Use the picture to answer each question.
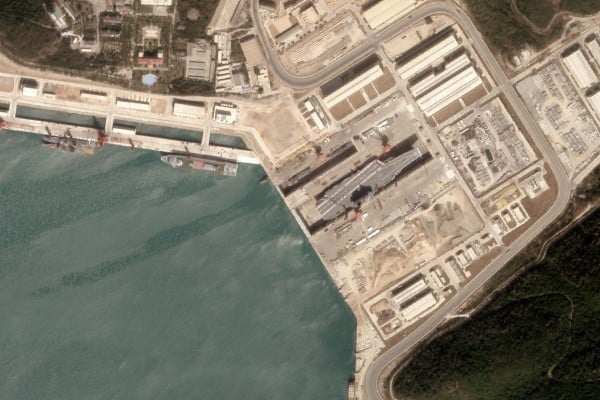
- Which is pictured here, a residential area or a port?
port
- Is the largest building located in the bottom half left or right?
right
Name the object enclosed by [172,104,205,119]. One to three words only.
building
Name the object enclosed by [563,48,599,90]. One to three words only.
building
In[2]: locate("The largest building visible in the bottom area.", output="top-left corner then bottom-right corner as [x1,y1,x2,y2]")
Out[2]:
[400,291,438,320]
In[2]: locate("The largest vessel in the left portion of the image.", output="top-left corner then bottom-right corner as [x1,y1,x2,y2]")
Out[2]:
[161,155,238,175]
